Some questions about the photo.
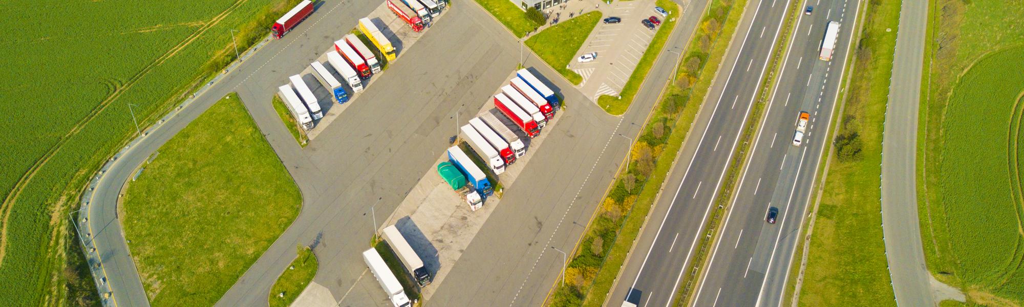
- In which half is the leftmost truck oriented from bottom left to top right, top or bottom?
top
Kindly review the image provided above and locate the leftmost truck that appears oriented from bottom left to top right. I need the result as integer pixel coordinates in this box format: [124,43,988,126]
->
[271,0,313,39]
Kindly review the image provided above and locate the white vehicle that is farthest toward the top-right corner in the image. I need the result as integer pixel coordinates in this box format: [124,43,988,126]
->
[820,21,839,59]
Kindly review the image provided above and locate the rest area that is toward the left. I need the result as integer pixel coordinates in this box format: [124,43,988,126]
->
[88,0,711,307]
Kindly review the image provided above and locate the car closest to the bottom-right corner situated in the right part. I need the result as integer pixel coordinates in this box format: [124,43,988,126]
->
[767,207,779,223]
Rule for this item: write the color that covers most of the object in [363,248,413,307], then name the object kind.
white truck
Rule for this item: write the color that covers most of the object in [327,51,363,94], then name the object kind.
white truck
